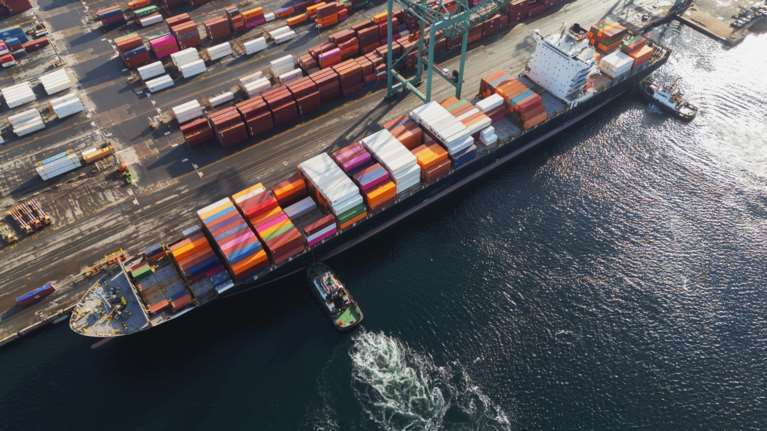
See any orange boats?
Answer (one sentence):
No, the frame has no orange boat in it.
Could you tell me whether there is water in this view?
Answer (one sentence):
Yes, there's water in this view.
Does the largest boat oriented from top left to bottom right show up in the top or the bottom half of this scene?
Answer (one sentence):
The largest boat oriented from top left to bottom right is in the bottom half of the image.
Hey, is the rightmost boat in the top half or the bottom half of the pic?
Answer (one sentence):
The rightmost boat sits in the top half of the picture.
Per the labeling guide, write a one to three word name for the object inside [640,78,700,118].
boat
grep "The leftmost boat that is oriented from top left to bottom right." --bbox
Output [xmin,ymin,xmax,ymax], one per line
[303,260,359,334]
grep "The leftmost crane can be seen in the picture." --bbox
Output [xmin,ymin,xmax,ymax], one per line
[382,0,497,107]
